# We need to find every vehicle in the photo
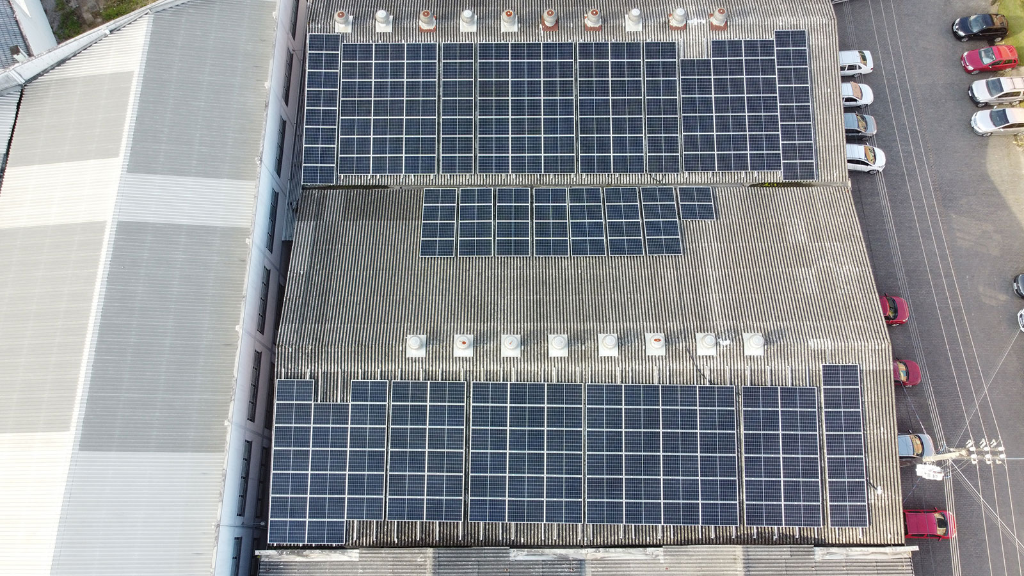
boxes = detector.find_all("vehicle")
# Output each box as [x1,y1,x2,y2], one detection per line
[844,110,878,141]
[963,73,1024,106]
[842,78,874,109]
[902,507,958,544]
[949,11,1013,42]
[840,49,876,78]
[879,294,911,326]
[846,142,886,174]
[893,355,922,387]
[957,41,1024,74]
[897,427,936,458]
[967,104,1024,136]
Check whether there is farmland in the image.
No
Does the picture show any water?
No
